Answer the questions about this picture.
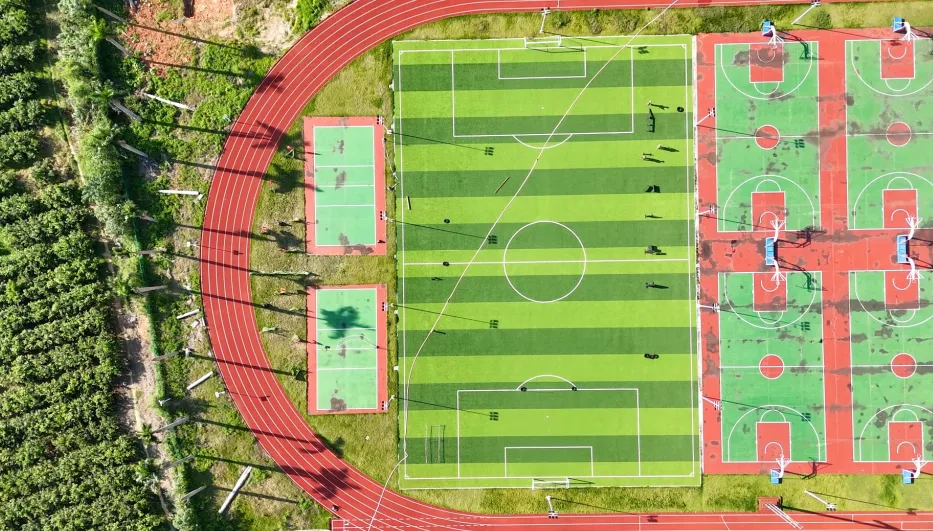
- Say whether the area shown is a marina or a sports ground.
sports ground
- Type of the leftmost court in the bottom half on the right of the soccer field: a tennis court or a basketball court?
basketball court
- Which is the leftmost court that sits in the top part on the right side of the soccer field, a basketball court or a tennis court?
basketball court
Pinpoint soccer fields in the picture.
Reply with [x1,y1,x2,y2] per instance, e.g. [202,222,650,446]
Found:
[394,35,701,488]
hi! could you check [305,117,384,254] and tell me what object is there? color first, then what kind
green sports court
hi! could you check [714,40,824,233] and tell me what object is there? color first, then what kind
green basketball court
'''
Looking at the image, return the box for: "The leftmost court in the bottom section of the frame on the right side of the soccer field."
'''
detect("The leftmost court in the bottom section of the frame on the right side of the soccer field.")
[718,269,828,464]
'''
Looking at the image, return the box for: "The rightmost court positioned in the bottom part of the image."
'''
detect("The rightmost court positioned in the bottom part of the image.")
[846,267,933,463]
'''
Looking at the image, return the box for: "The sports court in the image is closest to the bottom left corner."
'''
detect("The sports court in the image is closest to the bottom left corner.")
[308,286,386,414]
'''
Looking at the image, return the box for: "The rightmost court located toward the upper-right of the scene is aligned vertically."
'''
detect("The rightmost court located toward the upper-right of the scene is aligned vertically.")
[842,36,933,230]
